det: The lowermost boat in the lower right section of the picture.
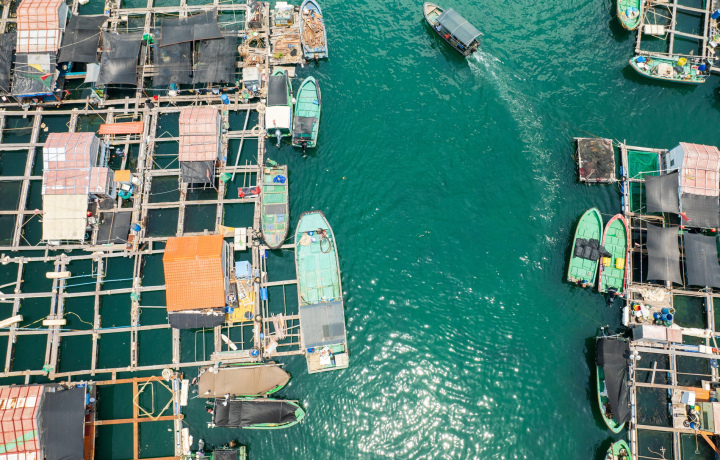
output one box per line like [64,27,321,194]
[602,439,634,460]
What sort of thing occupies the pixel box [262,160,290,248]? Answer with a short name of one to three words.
boat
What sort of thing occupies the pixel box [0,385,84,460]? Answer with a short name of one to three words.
shed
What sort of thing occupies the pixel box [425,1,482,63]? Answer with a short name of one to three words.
boat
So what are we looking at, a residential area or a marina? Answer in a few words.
marina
